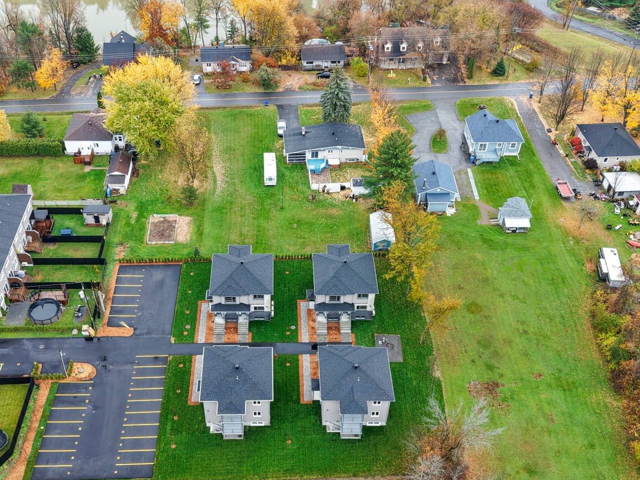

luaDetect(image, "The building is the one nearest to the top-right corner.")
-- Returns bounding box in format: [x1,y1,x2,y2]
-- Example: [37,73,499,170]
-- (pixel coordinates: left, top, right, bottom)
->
[574,122,640,167]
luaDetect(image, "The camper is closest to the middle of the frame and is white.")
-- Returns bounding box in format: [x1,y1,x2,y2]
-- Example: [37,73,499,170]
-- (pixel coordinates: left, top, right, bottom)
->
[264,155,276,187]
